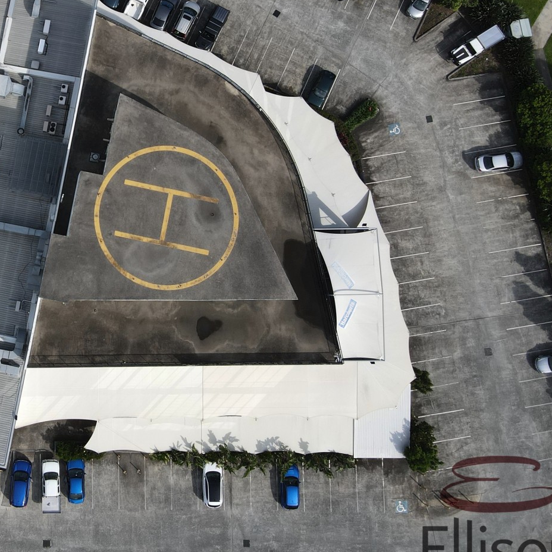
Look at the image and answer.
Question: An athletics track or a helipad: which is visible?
helipad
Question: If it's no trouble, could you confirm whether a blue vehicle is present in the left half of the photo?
Yes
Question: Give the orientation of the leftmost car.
vertically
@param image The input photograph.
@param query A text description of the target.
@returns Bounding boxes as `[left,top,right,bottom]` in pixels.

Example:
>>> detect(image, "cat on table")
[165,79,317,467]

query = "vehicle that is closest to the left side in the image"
[10,458,33,510]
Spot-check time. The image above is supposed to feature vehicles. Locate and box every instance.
[308,61,340,109]
[532,351,552,374]
[171,1,200,40]
[104,0,123,9]
[10,458,33,510]
[39,458,62,513]
[124,0,149,21]
[448,21,510,67]
[202,471,227,509]
[149,0,177,30]
[65,459,88,504]
[279,471,306,511]
[473,148,524,174]
[405,0,432,19]
[196,4,232,50]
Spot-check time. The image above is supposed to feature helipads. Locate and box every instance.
[39,94,298,300]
